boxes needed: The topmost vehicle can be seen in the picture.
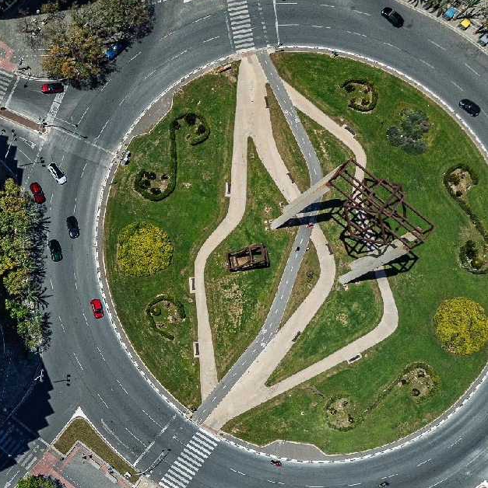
[382,5,406,26]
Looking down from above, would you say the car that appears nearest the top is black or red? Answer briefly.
black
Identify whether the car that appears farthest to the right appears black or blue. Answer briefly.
black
